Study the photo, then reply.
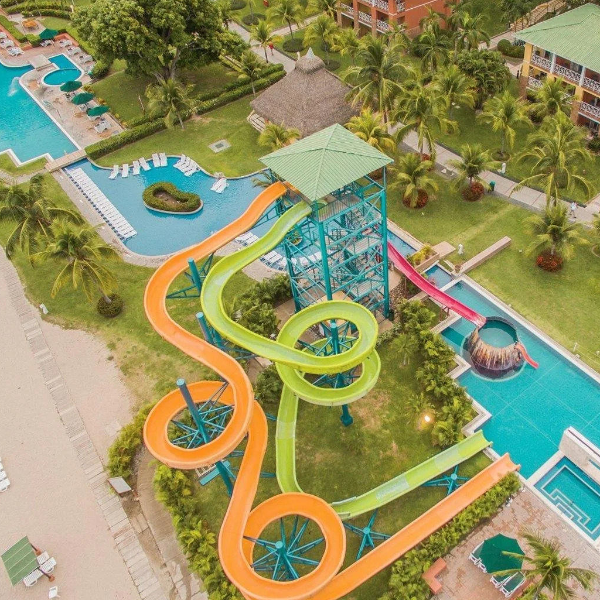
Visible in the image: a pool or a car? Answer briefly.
pool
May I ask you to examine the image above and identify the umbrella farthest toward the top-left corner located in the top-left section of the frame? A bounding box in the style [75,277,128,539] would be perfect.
[38,30,61,46]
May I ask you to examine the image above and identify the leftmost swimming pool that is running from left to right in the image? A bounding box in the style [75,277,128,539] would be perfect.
[67,157,421,275]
